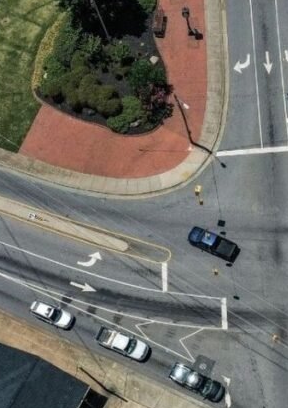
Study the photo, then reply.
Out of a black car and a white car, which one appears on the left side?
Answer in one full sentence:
Looking on the left side, you will find a white car.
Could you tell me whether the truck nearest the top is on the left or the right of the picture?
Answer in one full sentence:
The truck nearest the top is on the right side of the image.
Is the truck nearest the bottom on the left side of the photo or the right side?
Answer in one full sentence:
The truck nearest the bottom sits on the right side.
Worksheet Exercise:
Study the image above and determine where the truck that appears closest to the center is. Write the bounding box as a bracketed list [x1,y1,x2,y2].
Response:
[187,227,240,259]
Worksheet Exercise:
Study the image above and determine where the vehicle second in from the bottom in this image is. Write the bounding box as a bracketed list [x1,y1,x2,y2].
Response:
[95,323,150,359]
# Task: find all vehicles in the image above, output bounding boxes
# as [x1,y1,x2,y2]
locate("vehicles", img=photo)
[27,298,73,328]
[187,227,240,259]
[168,362,226,400]
[95,323,150,359]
